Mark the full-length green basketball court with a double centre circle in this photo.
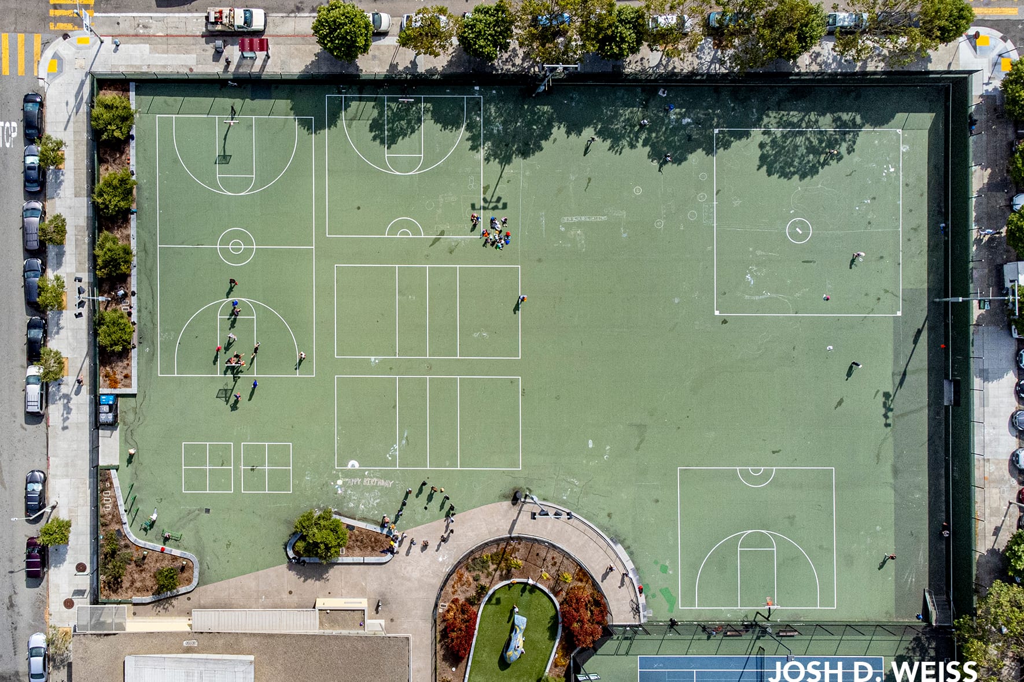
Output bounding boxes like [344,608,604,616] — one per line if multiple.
[157,115,315,377]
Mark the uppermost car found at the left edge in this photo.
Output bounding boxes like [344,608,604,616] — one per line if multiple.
[21,92,45,140]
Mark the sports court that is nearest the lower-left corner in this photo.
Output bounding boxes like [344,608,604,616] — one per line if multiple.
[182,443,234,493]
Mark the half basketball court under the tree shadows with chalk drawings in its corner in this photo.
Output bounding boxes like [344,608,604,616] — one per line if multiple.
[326,95,483,237]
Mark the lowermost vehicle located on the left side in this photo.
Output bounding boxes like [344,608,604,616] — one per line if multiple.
[26,634,49,682]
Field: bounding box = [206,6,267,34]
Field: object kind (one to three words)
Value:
truck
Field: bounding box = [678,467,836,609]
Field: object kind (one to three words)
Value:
basketball court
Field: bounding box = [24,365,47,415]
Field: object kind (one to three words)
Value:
car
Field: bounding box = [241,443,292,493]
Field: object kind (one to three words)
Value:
sports court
